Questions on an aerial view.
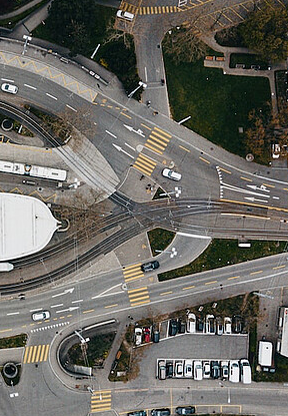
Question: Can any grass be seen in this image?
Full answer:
Yes, there's grass in this view.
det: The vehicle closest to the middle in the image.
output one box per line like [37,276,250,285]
[162,168,182,181]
